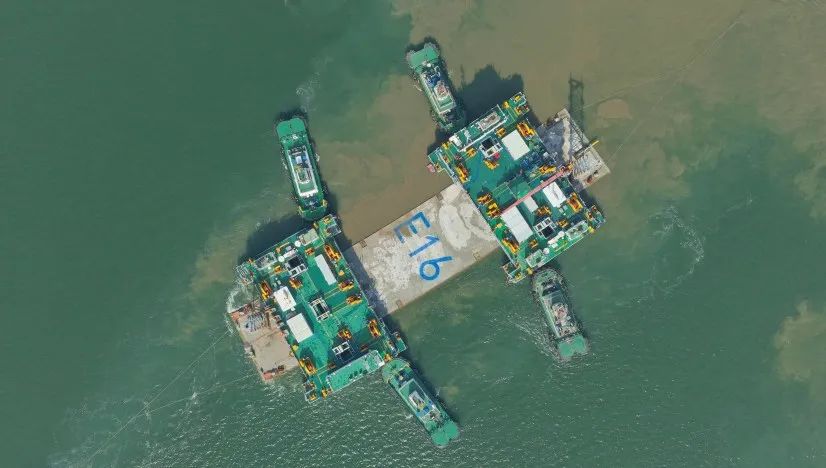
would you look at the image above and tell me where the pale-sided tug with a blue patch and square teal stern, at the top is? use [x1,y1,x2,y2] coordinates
[408,42,467,135]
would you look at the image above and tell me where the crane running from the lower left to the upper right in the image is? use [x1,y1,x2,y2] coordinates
[491,158,576,215]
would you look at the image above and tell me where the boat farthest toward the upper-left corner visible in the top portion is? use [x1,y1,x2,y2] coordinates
[277,115,327,222]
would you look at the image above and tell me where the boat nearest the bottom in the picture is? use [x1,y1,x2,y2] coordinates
[386,355,459,447]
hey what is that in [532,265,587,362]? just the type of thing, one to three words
boat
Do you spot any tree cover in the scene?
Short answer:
No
